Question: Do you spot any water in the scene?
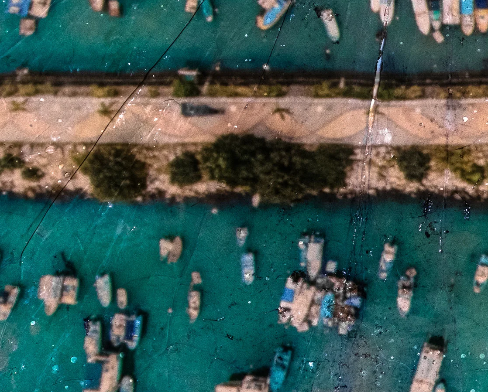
Yes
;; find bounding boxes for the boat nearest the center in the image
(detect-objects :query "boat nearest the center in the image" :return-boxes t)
[235,227,249,248]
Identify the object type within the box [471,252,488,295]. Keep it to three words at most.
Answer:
boat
